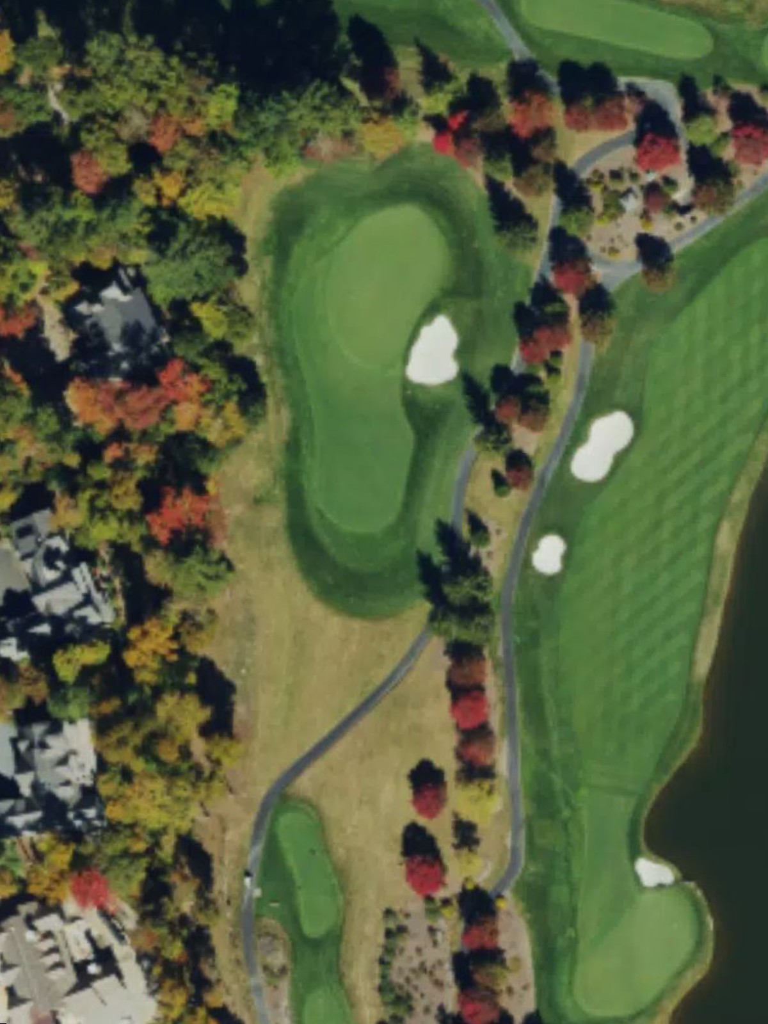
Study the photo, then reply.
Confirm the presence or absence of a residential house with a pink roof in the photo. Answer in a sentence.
No, no residential house with a pink roof can be seen from above.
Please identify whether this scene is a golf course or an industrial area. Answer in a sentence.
The area seen from above is a golf course.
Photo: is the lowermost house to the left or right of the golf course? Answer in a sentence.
Looking at the picture, you'll find the lowermost house to the left of the golf course.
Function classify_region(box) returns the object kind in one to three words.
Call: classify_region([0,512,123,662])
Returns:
house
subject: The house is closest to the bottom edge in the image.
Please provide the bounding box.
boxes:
[0,900,147,1024]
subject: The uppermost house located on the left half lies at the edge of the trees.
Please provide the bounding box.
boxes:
[75,275,177,374]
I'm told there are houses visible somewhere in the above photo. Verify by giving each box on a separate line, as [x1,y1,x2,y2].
[0,900,147,1024]
[75,275,177,374]
[0,512,123,662]
[0,716,107,835]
